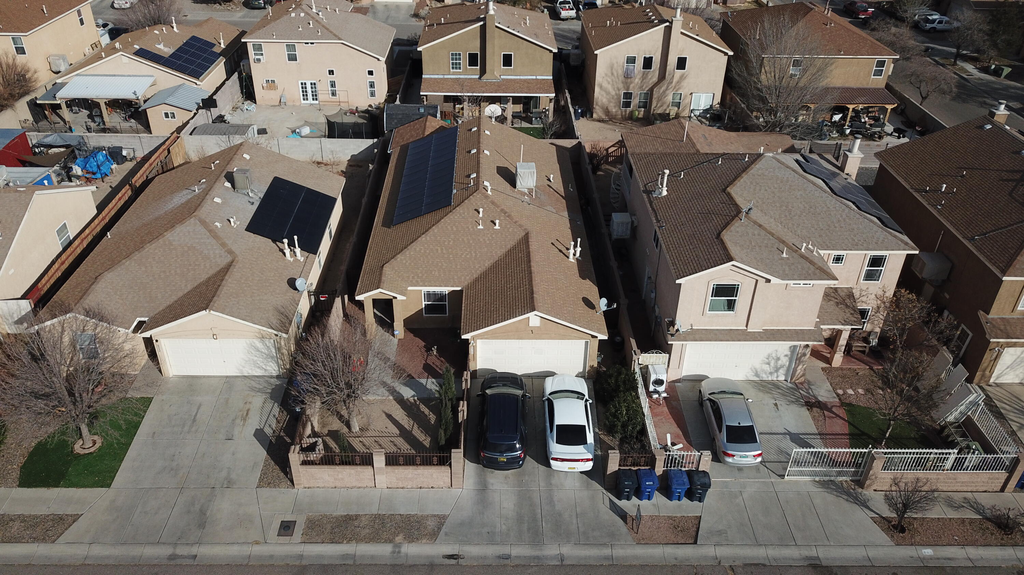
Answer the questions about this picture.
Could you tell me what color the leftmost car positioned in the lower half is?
black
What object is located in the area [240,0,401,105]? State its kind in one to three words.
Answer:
house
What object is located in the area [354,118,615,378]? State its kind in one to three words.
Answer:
house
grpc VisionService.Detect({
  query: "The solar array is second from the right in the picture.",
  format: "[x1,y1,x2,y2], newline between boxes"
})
[390,122,457,222]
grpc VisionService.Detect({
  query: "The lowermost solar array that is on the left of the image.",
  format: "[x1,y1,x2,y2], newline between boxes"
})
[246,174,338,250]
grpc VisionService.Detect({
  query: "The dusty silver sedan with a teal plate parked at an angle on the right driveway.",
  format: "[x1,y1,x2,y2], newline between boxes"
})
[699,379,766,472]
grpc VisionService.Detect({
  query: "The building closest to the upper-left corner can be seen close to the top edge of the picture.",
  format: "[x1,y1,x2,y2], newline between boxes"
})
[0,0,112,95]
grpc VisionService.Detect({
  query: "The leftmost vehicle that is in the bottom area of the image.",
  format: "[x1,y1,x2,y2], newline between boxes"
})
[474,376,531,474]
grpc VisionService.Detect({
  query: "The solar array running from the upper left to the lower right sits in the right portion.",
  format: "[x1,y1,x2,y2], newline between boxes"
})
[796,150,879,209]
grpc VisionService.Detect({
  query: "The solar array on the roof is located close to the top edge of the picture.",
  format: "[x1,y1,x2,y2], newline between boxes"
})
[131,20,234,77]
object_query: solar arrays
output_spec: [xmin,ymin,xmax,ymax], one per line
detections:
[796,150,879,209]
[246,174,338,250]
[131,20,234,77]
[390,122,457,222]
